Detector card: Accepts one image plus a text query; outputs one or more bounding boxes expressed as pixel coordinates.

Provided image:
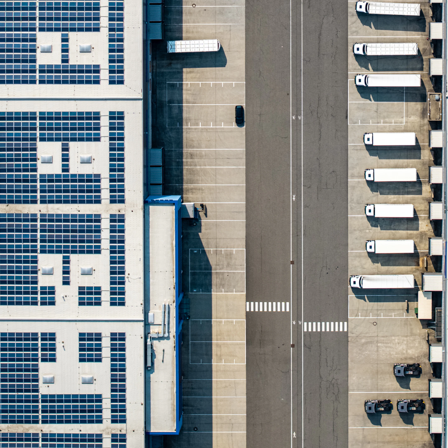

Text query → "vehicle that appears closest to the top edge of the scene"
[355,0,420,16]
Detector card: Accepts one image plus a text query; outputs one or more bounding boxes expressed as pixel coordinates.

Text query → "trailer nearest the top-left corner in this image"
[168,38,221,53]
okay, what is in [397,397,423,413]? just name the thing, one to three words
vehicle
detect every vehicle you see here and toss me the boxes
[234,106,244,124]
[364,202,414,217]
[348,274,414,288]
[363,168,417,180]
[353,41,418,55]
[362,131,416,145]
[365,398,391,414]
[364,239,414,253]
[354,73,421,87]
[397,397,423,413]
[394,362,419,377]
[355,0,420,16]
